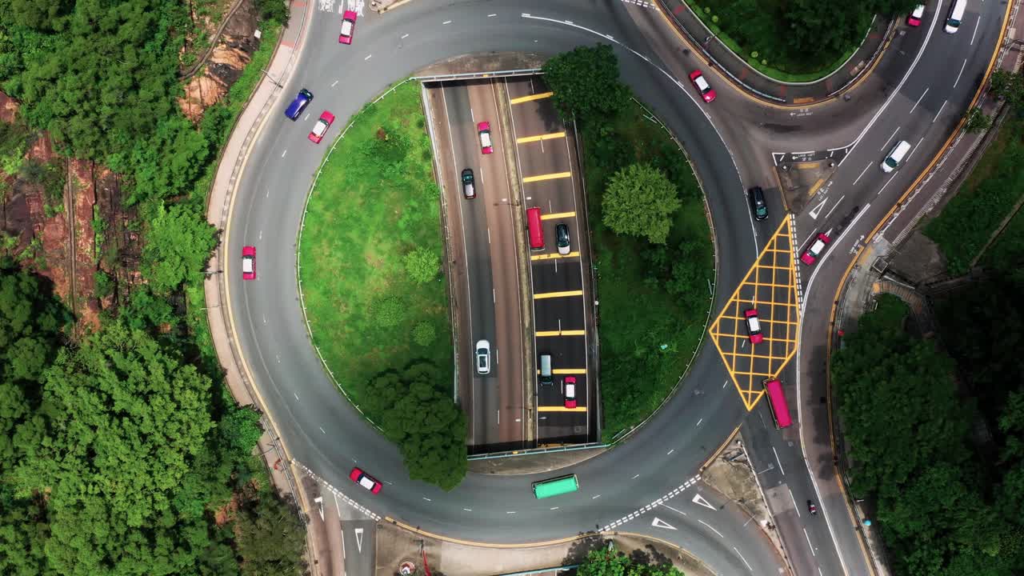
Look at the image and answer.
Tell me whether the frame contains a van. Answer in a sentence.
Yes, the image includes a van.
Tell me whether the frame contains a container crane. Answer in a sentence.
No, the picture doesn't show any container crane.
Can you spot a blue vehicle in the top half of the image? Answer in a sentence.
Yes, the scene does show a blue vehicle in the top half of the image.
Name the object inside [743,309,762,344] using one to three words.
car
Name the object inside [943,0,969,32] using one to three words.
vehicle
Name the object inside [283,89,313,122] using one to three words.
van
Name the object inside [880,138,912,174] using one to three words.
van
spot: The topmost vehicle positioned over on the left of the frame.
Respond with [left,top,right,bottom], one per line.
[338,10,358,46]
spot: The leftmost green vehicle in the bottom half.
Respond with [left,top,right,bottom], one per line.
[531,472,580,500]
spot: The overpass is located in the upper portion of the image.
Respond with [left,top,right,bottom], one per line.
[411,63,556,87]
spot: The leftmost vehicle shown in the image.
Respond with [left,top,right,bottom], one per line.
[241,245,258,280]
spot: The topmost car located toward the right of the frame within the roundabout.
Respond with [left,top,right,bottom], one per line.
[689,69,714,104]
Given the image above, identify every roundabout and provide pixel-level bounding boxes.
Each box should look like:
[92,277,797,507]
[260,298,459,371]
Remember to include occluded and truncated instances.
[226,0,888,545]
